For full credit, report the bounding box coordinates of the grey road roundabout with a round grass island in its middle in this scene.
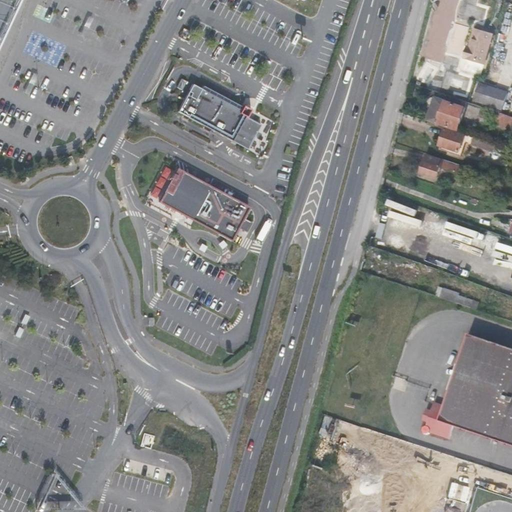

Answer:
[0,175,112,270]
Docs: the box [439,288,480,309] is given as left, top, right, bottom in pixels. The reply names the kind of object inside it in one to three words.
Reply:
shed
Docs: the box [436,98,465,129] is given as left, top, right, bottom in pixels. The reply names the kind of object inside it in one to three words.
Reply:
house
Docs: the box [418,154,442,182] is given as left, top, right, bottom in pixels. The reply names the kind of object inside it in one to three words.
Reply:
house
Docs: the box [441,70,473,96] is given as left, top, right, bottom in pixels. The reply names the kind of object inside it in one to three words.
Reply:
building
